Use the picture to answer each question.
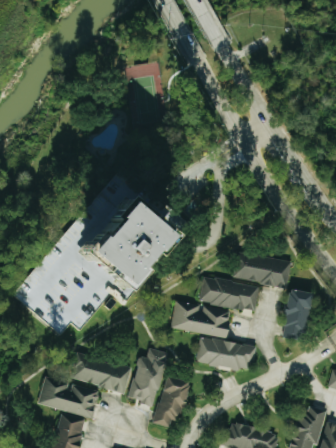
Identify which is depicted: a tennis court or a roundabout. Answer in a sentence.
Of the two, only a tennis court appears.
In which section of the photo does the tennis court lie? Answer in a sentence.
The tennis court sits in the top section of the image.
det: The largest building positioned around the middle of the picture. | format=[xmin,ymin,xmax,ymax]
[90,194,182,290]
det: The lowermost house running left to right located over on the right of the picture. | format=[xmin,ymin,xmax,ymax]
[226,424,280,448]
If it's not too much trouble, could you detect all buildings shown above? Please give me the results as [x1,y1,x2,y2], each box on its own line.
[129,346,167,408]
[56,416,86,448]
[152,376,190,428]
[200,276,260,313]
[197,337,256,374]
[238,257,292,292]
[226,424,280,448]
[72,349,132,394]
[292,406,328,448]
[282,289,314,336]
[38,377,100,420]
[90,194,182,290]
[172,299,231,340]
